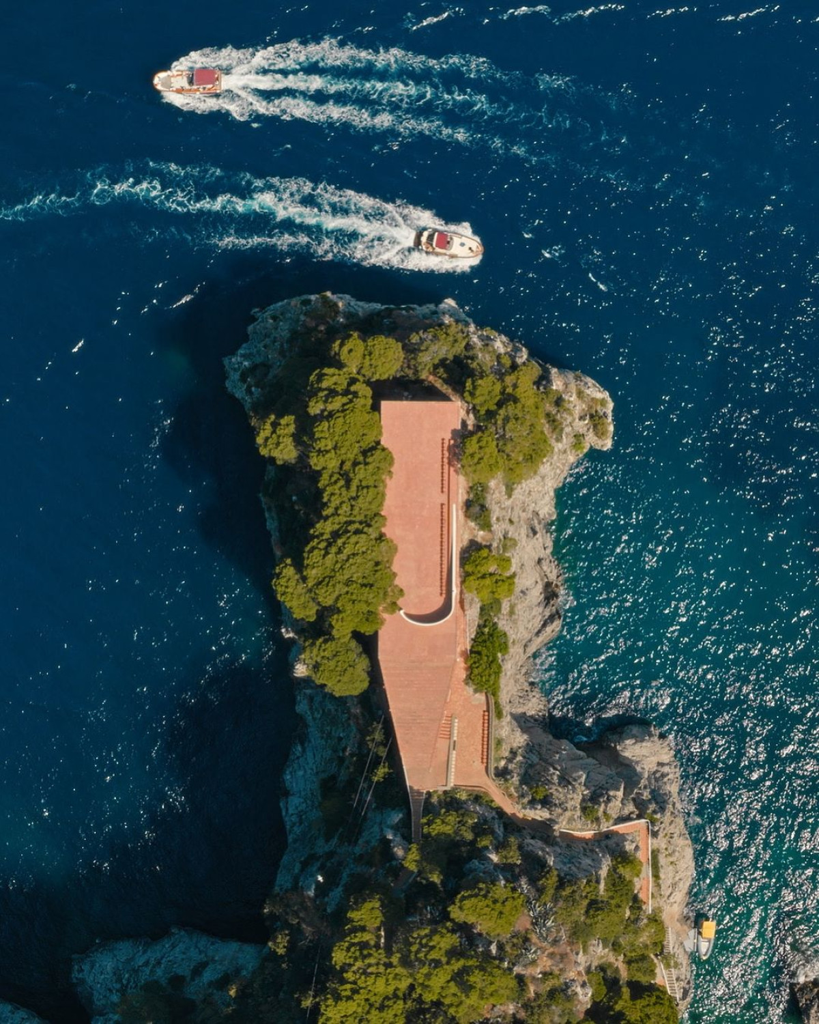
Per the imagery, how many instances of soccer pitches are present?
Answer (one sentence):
The picture shows no soccer pitches.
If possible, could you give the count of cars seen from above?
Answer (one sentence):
The picture shows no cars.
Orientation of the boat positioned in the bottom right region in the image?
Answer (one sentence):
What the image shows is the boat positioned in the bottom right region lying up and down.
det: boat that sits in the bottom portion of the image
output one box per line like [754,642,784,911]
[697,913,718,963]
